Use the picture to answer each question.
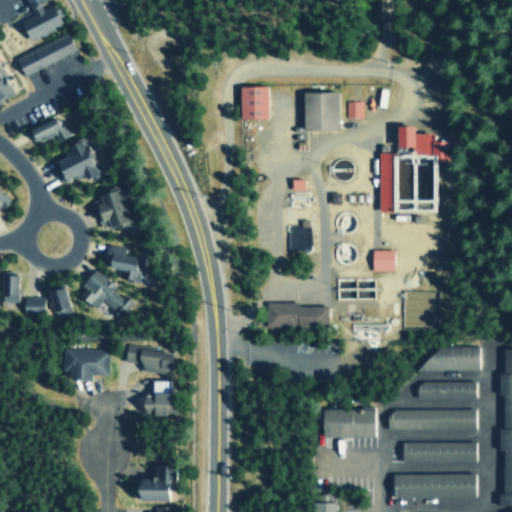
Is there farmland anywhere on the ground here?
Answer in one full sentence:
No, there's no farmland in this view.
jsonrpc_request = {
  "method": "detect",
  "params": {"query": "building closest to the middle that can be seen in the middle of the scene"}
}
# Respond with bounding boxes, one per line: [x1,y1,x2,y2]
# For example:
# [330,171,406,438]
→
[288,218,314,254]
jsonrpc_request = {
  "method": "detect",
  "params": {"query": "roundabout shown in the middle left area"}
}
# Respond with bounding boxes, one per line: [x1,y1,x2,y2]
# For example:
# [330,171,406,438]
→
[37,222,74,258]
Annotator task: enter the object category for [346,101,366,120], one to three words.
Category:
shed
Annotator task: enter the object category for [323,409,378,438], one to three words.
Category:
building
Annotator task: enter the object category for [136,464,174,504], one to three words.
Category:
house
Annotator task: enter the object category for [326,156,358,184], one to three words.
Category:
storage tank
